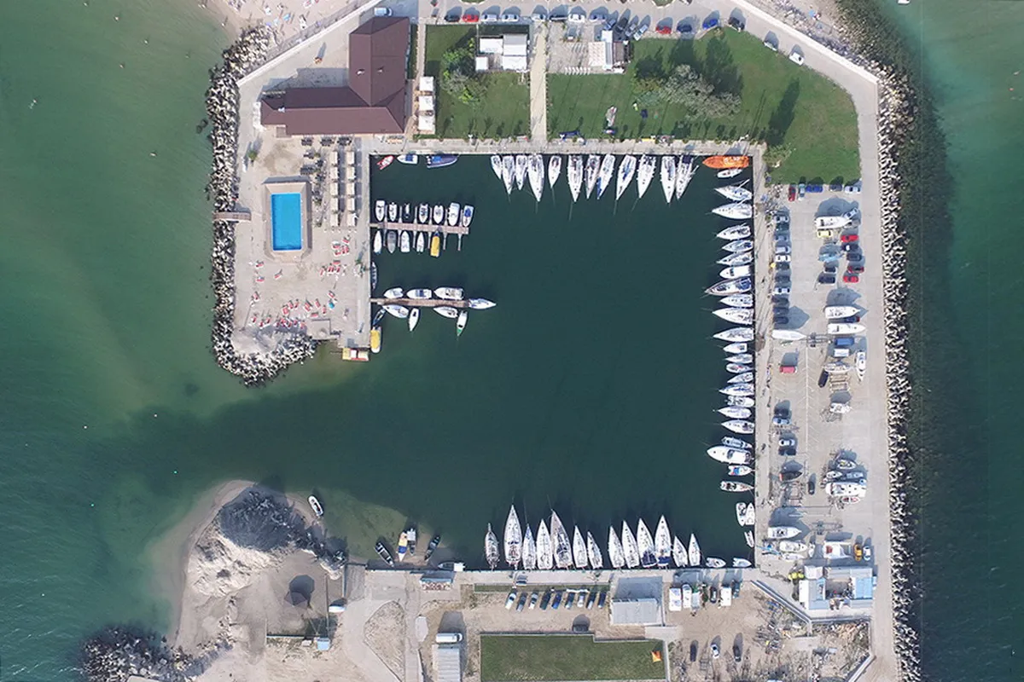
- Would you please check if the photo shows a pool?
Yes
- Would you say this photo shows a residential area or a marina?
marina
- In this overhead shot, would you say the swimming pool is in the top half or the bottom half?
top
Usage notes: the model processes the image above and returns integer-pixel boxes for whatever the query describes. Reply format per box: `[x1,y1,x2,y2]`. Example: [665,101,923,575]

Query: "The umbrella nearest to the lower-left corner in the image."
[283,591,304,613]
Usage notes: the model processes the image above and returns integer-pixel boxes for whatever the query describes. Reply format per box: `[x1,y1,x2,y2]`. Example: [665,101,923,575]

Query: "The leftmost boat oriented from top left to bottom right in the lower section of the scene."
[307,495,325,517]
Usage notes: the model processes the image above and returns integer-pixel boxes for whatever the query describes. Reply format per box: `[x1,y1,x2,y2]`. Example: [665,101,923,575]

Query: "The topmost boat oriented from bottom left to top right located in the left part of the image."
[378,156,393,170]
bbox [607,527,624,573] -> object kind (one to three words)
boat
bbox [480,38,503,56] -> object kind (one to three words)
building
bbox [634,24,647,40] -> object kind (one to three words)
vehicle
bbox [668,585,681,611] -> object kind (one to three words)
vehicle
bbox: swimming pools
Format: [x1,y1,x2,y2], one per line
[263,182,317,263]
